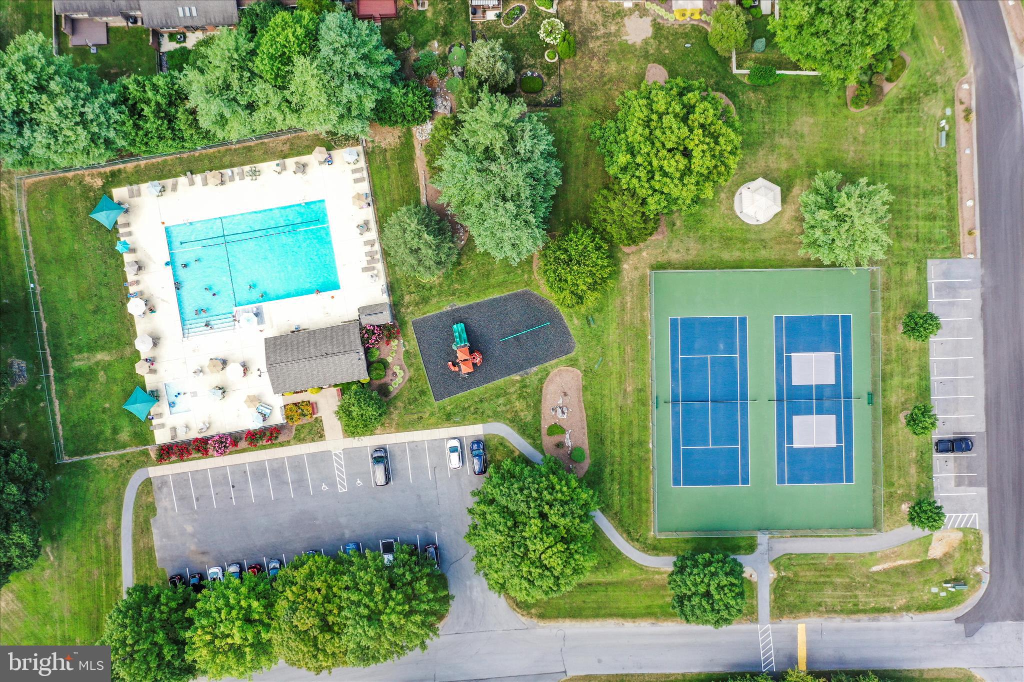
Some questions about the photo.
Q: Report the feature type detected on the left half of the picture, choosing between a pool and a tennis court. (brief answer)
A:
pool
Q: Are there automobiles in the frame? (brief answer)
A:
Yes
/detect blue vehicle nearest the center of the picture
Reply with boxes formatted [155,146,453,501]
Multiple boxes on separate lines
[470,440,487,475]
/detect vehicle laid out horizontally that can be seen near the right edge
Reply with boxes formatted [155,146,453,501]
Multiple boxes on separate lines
[932,438,973,454]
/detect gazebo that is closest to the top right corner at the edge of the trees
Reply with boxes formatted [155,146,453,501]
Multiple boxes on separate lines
[734,177,781,224]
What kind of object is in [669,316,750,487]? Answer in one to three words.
tennis court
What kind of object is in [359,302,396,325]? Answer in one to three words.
shed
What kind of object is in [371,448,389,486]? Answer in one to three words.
car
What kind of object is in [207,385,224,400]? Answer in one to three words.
umbrella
